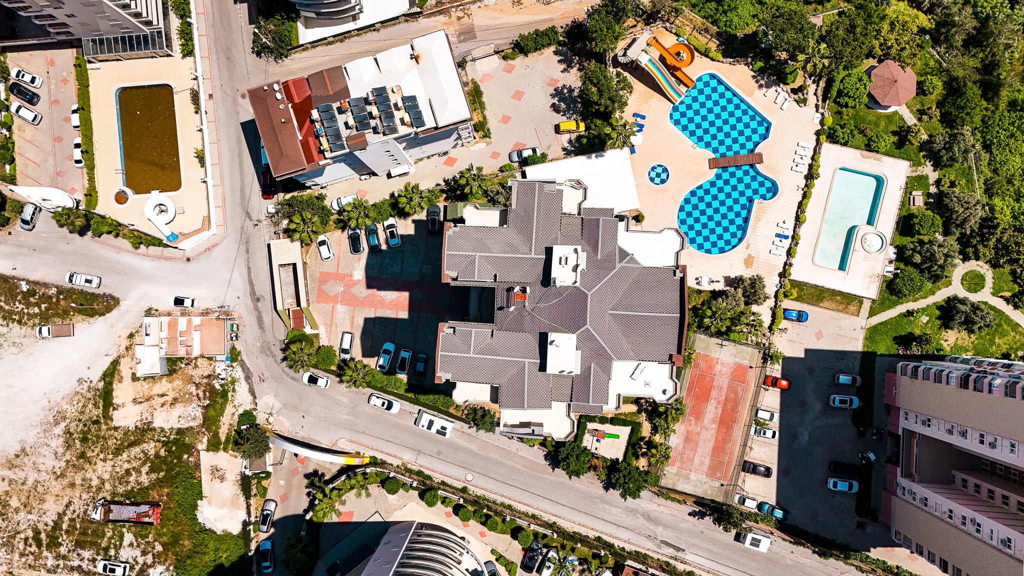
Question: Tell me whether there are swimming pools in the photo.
Yes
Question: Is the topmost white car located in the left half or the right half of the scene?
left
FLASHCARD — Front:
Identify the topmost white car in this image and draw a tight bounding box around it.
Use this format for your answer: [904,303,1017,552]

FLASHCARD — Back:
[11,69,44,89]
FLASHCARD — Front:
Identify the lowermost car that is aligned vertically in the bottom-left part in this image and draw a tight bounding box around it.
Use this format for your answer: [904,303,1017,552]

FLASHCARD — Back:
[259,539,276,571]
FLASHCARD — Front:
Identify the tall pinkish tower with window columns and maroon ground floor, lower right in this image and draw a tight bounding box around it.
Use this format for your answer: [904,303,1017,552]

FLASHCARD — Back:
[878,352,1024,576]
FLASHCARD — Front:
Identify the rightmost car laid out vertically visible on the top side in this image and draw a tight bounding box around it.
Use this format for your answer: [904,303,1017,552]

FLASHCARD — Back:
[428,206,440,233]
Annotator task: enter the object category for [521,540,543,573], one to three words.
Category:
car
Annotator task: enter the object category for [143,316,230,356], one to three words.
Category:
house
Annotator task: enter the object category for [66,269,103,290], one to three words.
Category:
vehicle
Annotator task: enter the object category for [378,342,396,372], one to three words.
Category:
car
